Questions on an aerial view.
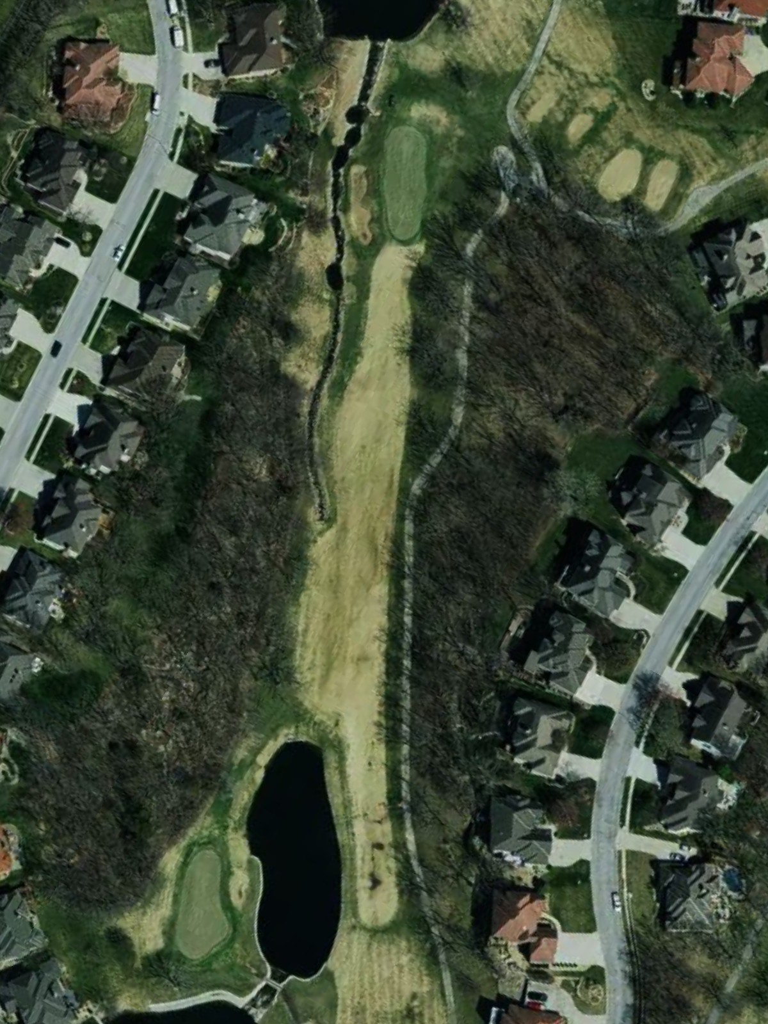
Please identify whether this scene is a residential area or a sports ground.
residential area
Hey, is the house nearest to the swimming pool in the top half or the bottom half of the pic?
bottom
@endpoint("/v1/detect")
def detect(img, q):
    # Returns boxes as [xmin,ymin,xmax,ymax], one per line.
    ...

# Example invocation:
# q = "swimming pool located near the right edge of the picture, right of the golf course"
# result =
[723,868,741,893]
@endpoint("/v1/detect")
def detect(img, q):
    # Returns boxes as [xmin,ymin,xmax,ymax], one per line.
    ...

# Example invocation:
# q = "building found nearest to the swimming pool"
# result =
[656,854,726,935]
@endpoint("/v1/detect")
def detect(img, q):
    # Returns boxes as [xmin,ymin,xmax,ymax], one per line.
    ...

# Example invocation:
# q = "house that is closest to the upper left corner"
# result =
[59,38,125,118]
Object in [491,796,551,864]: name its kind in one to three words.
house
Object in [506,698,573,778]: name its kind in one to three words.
house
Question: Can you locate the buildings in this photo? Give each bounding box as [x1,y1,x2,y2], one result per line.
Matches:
[622,462,694,549]
[180,177,255,261]
[712,0,768,16]
[22,130,87,215]
[0,635,45,712]
[213,94,291,168]
[506,698,573,778]
[657,756,726,838]
[491,796,551,864]
[0,884,51,963]
[139,254,222,333]
[490,883,558,966]
[0,209,67,293]
[219,3,286,78]
[685,677,751,757]
[59,38,125,118]
[0,281,24,359]
[104,325,189,403]
[0,953,85,1024]
[0,549,68,632]
[521,609,597,696]
[668,393,742,481]
[656,854,726,935]
[39,474,112,561]
[68,404,150,480]
[701,223,768,305]
[715,601,768,682]
[563,529,635,624]
[493,1007,566,1024]
[685,22,755,97]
